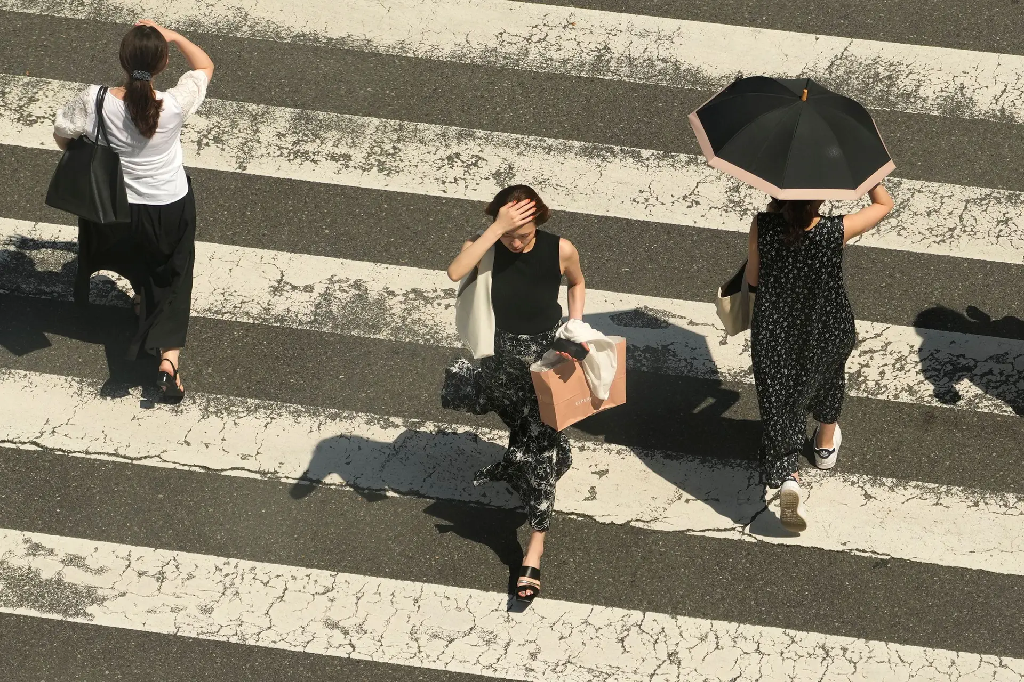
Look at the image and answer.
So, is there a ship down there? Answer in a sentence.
No, there's no ship here.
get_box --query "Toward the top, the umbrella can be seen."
[687,75,899,200]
